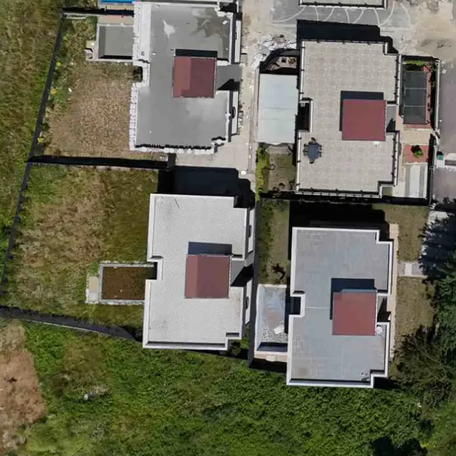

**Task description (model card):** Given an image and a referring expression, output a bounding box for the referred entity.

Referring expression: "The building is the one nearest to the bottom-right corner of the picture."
[287,216,400,388]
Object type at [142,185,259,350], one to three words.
house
